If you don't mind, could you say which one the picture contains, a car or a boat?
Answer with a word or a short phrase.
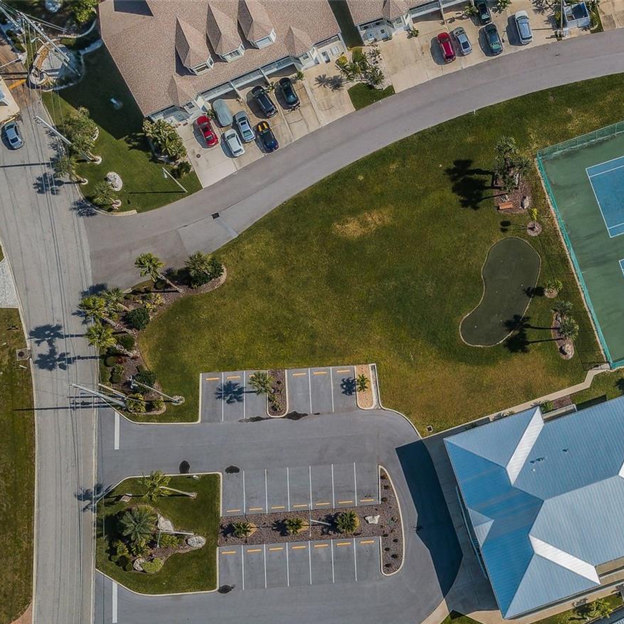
car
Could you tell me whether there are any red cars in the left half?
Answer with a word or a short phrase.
Yes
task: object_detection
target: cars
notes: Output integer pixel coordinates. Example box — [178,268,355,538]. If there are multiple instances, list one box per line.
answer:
[236,112,255,142]
[257,123,277,154]
[4,120,25,151]
[198,121,217,146]
[516,11,532,45]
[254,87,274,119]
[278,77,299,108]
[453,27,471,56]
[474,0,491,25]
[437,32,455,63]
[225,129,245,159]
[484,25,502,56]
